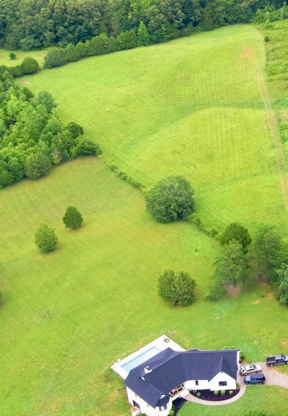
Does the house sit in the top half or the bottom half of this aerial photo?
bottom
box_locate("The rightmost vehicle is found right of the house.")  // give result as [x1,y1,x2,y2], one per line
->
[265,353,288,365]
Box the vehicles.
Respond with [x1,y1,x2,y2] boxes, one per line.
[265,353,288,365]
[240,362,262,373]
[243,372,265,385]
